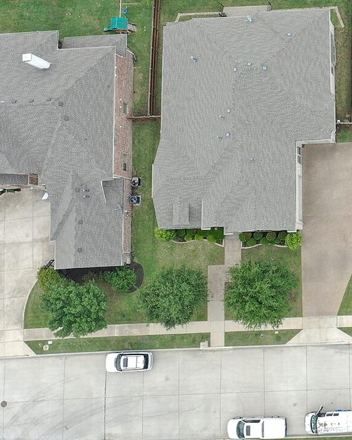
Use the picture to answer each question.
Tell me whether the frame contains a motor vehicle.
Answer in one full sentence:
Yes, there is a motor vehicle in the image.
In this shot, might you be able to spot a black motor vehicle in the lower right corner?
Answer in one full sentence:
No, no black motor vehicle appears in the lower right corner.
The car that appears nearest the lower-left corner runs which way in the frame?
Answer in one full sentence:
In this picture, the car that appears nearest the lower-left corner is oriented from left to right.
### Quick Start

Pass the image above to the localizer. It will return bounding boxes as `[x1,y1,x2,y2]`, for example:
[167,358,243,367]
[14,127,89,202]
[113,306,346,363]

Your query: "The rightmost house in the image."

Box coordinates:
[151,8,339,235]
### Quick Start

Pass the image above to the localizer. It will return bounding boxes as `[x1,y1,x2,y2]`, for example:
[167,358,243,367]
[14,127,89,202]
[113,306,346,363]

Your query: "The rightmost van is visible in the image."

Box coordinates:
[305,402,352,438]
